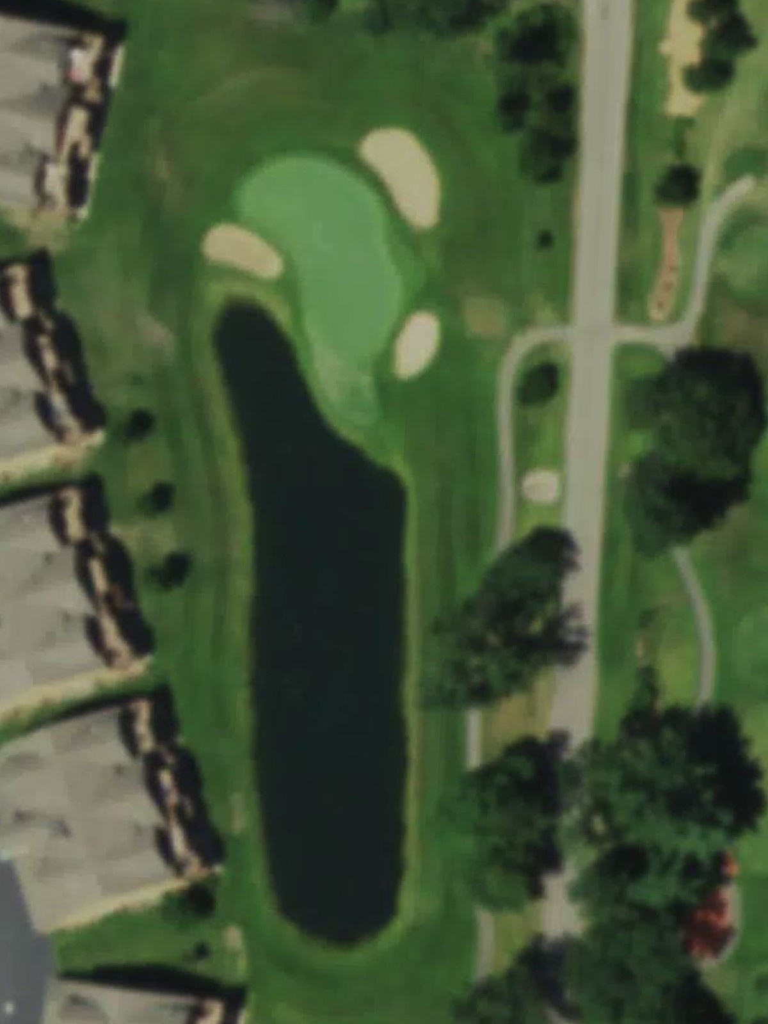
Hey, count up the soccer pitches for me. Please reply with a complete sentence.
There are no soccer pitches in the image.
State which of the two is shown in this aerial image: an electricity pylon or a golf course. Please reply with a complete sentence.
Visible in the photo is a golf course.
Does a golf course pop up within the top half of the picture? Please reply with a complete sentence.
Yes, looking within the top half of the picture, one can make out a golf course.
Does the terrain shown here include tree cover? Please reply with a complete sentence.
Yes, there is tree cover in the image.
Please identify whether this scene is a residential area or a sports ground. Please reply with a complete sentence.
The picture captures a residential area.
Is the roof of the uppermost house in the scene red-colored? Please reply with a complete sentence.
No, from above the roof of the uppermost house looks gray.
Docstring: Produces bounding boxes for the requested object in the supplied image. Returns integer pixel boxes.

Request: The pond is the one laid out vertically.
[218,302,409,944]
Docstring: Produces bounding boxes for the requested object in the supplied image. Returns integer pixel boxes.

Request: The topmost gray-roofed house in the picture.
[0,14,102,218]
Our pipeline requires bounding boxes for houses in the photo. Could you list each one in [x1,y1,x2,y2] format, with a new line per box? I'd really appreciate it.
[32,973,224,1024]
[0,485,129,714]
[0,695,200,936]
[0,14,102,218]
[0,260,79,466]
